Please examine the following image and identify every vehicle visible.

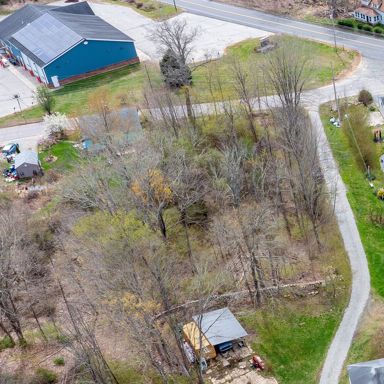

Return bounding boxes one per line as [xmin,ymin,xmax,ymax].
[216,342,233,355]
[0,141,22,154]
